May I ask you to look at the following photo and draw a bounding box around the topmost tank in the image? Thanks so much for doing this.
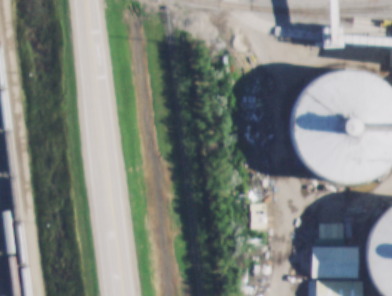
[288,67,392,184]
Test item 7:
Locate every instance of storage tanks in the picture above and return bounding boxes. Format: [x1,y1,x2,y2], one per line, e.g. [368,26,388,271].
[288,67,392,184]
[362,204,392,296]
